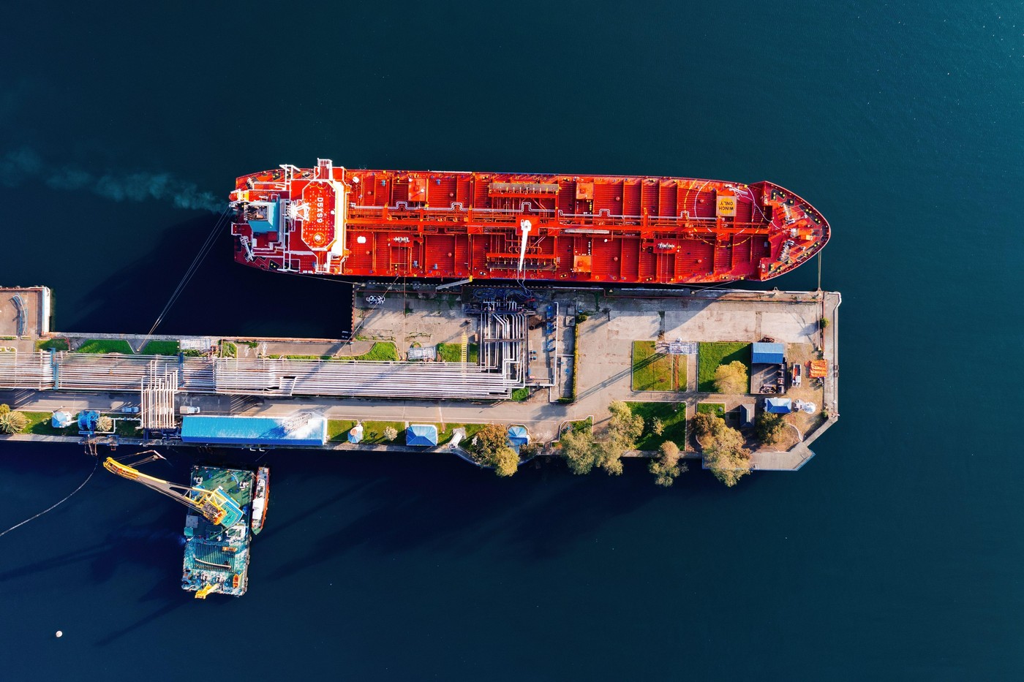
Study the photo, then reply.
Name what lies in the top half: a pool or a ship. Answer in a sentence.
Visible in the top half is a ship.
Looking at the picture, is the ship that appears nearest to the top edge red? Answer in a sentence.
Yes, the ship that appears nearest to the top edge appears red.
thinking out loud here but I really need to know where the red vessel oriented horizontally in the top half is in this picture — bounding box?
[229,159,831,292]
